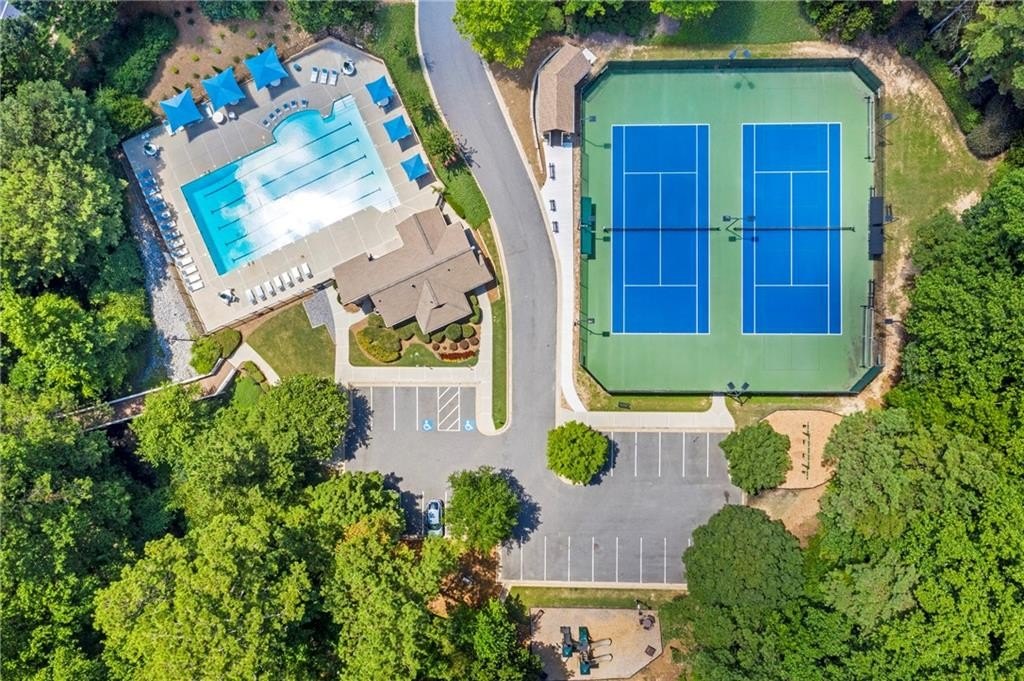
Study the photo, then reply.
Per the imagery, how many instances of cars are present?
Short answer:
1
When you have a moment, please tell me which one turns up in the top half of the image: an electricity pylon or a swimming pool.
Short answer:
swimming pool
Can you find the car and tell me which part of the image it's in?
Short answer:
bottom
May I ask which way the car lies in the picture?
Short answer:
up and down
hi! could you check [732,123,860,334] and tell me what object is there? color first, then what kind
blue tennis court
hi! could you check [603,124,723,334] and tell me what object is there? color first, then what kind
blue tennis court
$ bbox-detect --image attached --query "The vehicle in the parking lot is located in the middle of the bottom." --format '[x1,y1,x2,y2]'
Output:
[425,498,445,538]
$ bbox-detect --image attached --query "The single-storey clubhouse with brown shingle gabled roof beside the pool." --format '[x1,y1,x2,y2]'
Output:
[333,207,493,334]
